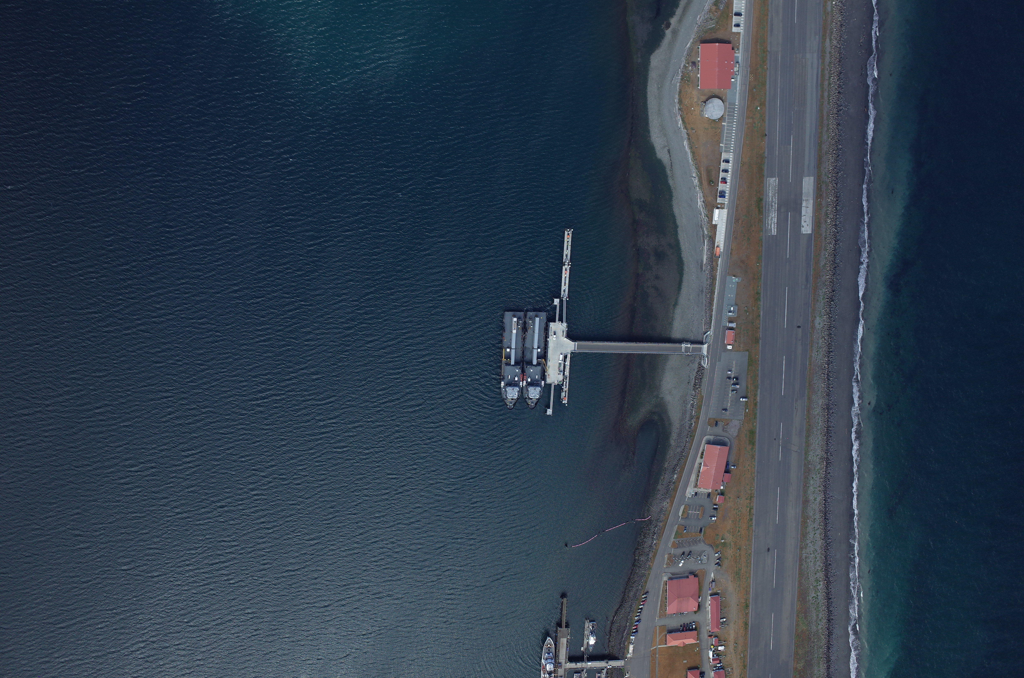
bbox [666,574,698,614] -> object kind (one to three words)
building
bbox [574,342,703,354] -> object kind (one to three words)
bridge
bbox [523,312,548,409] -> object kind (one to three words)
ship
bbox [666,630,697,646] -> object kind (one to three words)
building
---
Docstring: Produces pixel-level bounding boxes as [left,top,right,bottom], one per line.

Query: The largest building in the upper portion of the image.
[697,43,734,89]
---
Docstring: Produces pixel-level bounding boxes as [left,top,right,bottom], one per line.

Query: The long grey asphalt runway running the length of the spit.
[745,0,824,678]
